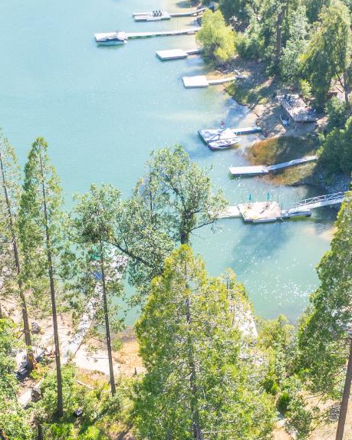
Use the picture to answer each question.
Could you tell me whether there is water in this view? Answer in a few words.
Yes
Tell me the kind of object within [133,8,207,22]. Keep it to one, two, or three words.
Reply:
pier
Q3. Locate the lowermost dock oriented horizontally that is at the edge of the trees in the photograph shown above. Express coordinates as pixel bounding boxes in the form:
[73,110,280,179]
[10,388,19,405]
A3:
[205,184,352,223]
